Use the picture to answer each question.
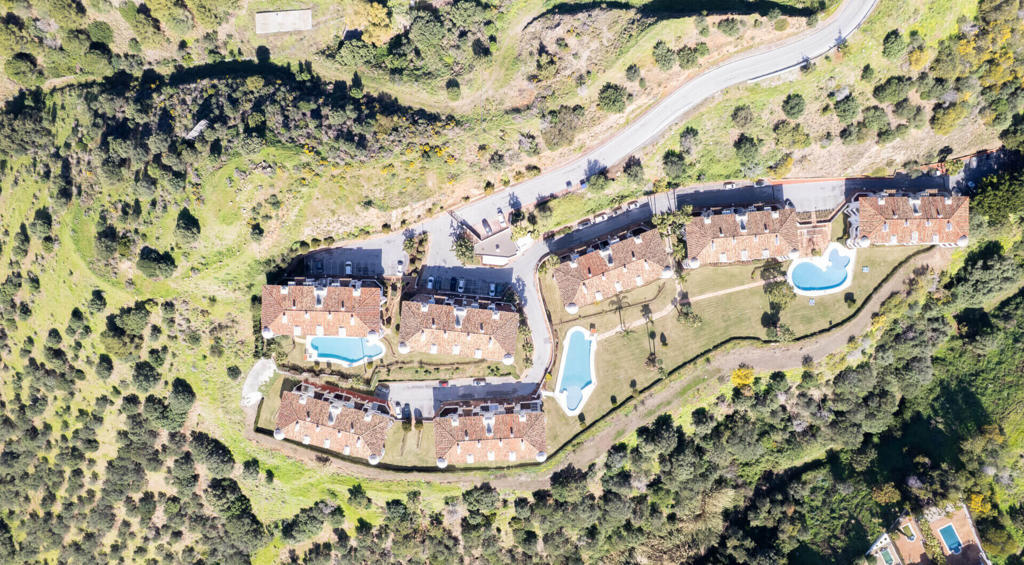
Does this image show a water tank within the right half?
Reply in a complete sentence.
No, there's no water tank to be seen within the right half.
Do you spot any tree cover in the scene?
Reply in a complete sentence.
Yes, there is tree cover in the image.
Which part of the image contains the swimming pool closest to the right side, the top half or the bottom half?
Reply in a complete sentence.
It is in the bottom half that the swimming pool closest to the right side appears.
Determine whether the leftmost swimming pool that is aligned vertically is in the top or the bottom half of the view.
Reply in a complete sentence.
Seen from above, the leftmost swimming pool that is aligned vertically lies in the bottom half of the view.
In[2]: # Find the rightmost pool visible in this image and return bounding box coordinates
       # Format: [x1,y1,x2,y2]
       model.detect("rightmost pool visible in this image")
[937,522,963,556]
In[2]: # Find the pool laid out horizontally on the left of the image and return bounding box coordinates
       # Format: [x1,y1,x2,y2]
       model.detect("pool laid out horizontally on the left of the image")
[300,335,386,369]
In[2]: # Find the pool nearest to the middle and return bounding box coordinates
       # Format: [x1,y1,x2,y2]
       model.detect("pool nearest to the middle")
[554,326,598,418]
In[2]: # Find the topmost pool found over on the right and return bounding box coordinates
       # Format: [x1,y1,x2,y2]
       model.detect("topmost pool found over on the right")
[787,242,857,297]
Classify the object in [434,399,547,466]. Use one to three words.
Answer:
building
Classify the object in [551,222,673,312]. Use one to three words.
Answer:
building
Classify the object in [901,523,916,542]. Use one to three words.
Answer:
swimming pool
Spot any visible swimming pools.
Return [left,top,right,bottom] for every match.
[901,523,916,542]
[554,326,598,418]
[937,522,963,556]
[787,242,857,297]
[880,548,895,565]
[300,335,386,369]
